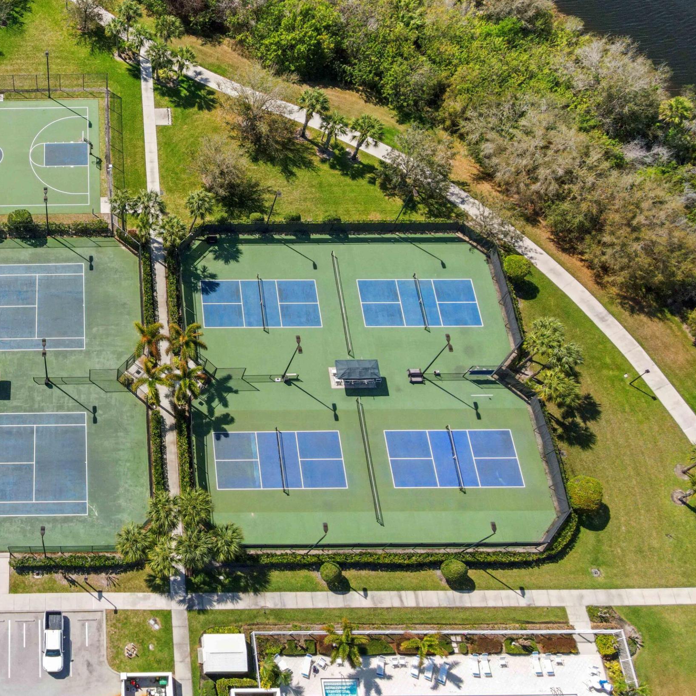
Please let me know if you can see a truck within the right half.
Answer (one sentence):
No, within the right half there is no truck.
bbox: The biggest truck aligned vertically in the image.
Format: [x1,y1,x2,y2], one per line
[39,608,66,673]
